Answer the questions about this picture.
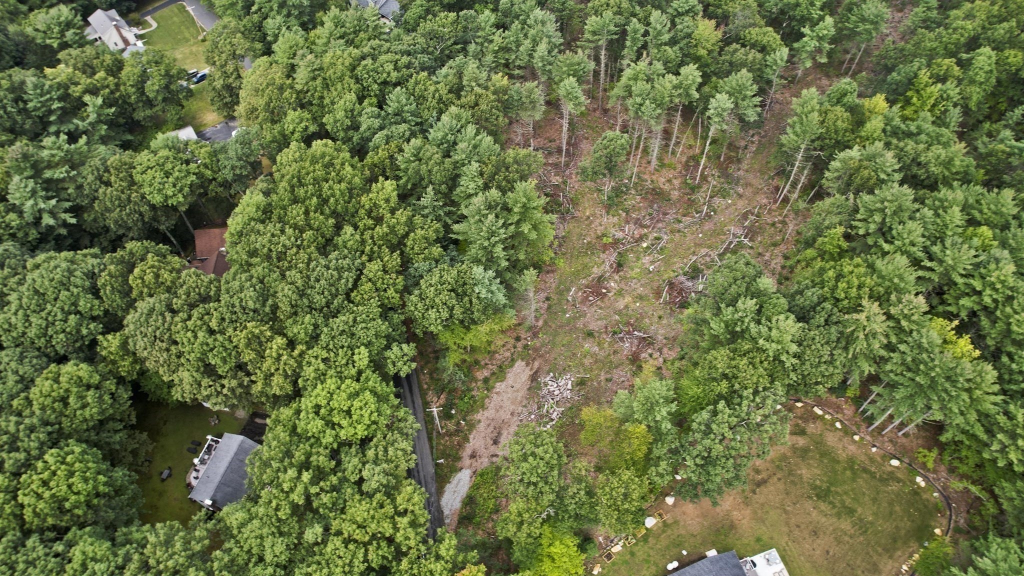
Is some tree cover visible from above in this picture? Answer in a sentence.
Yes, the picture does contain tree cover.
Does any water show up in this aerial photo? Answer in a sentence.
No, the scene doesn't show any water.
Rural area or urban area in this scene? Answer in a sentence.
From above, the setting appears rural.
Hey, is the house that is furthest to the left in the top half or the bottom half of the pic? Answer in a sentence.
It is in the top half that the house that is furthest to the left appears.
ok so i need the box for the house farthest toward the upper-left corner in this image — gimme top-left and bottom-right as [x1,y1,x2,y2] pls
[90,9,158,66]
